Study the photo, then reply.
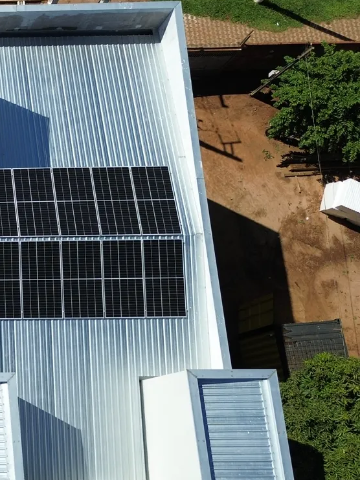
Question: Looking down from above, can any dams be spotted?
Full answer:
No, this view has no dam in it.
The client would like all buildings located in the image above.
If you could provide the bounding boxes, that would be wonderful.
[312,180,360,230]
[0,2,293,480]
